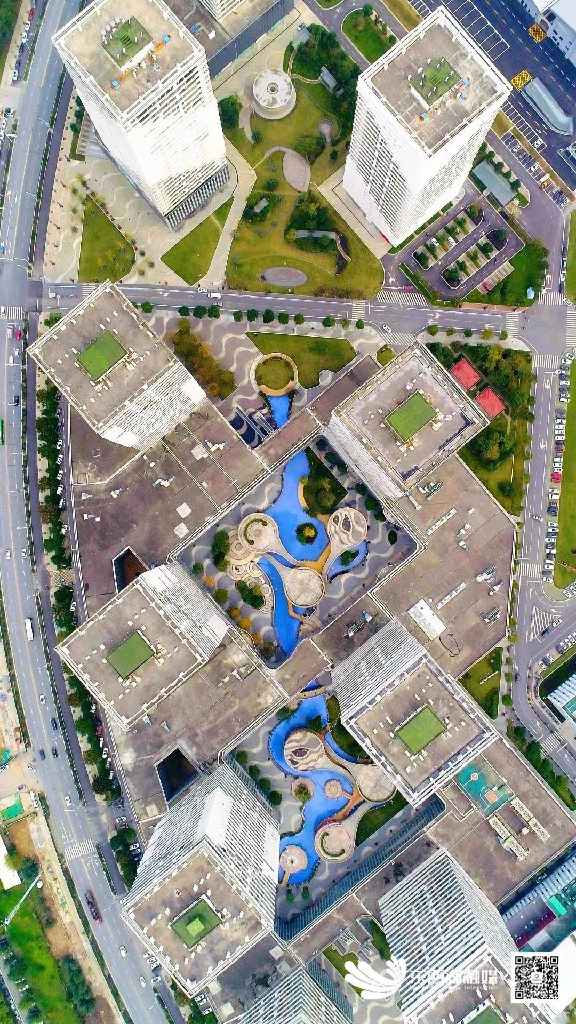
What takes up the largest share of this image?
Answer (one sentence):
The largest share of the image is taken up by buildings.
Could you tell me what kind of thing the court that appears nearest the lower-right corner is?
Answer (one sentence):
What you see as the court that appears nearest the lower-right corner is a basketball court.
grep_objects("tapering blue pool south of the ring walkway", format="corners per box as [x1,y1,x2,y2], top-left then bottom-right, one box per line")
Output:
[261,391,296,428]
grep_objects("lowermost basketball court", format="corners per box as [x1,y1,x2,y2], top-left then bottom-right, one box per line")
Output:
[451,756,513,816]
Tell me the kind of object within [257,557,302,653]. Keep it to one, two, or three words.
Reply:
swimming pool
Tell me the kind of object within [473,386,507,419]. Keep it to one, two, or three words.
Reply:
house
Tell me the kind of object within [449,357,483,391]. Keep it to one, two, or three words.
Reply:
house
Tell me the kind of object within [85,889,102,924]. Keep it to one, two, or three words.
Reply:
vehicle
